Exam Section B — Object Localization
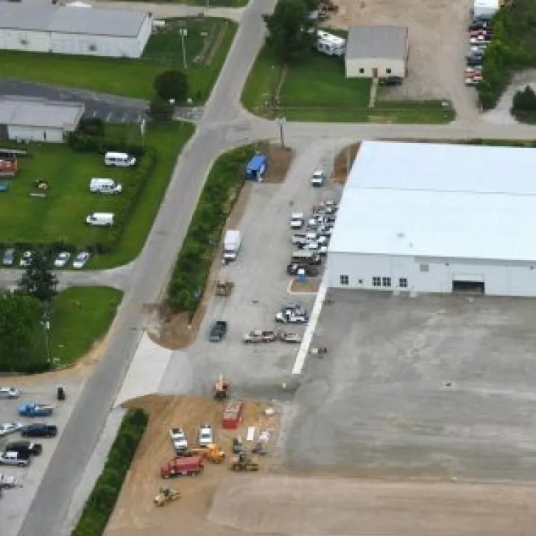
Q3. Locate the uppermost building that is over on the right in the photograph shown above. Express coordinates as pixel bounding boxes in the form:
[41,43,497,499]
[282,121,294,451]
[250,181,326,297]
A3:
[344,25,408,77]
